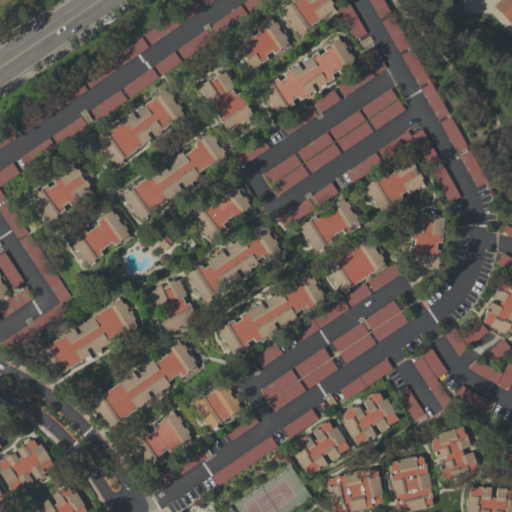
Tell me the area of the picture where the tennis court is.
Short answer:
bottom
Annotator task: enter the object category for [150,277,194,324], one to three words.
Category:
house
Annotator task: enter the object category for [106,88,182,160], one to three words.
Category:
house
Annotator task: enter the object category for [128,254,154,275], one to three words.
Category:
swimming pool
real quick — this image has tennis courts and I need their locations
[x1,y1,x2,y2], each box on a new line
[229,467,310,512]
